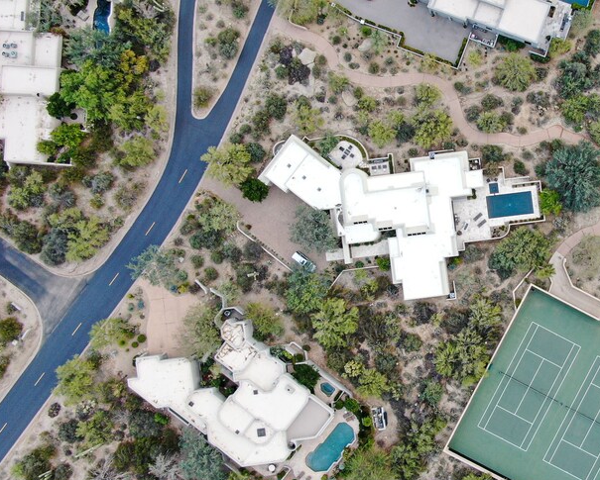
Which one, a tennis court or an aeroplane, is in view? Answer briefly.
tennis court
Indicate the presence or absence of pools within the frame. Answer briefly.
Yes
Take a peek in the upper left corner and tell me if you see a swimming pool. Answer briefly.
Yes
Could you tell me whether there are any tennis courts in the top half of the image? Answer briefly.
No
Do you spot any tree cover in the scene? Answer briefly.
Yes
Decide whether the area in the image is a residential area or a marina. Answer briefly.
residential area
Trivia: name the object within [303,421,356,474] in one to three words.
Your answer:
swimming pool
